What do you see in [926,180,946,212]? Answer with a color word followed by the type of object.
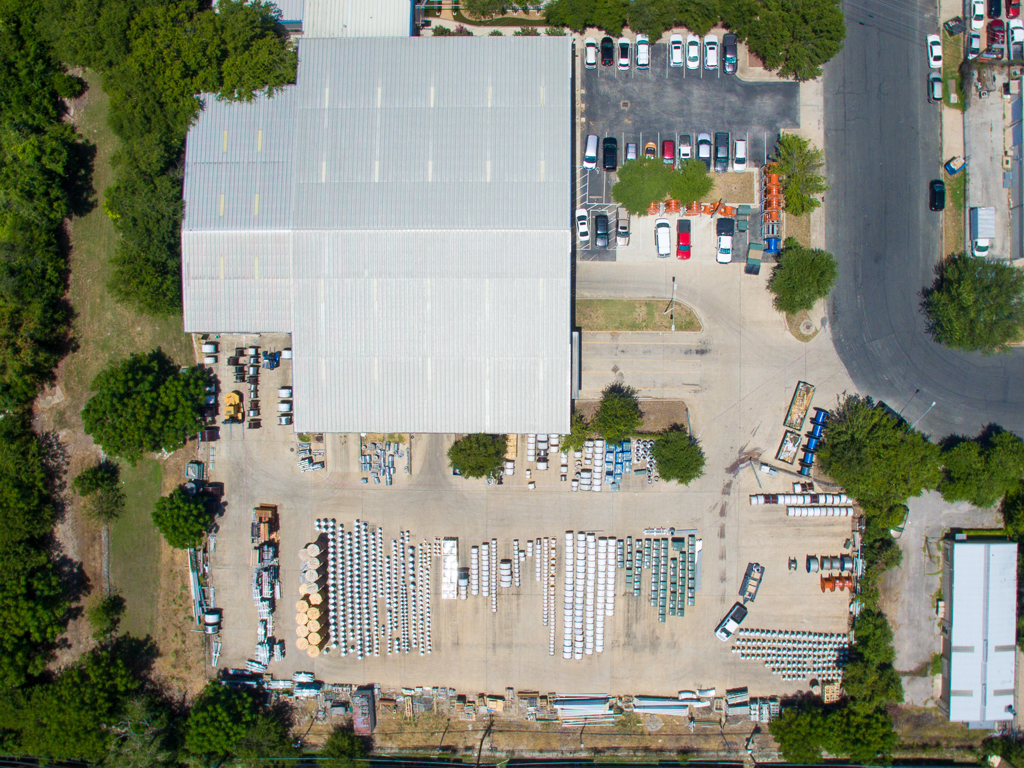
black car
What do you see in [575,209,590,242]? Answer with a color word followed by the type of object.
white car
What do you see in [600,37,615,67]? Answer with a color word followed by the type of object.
black car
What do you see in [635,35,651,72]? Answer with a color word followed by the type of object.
white car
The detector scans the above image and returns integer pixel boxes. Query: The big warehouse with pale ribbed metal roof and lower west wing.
[182,36,580,434]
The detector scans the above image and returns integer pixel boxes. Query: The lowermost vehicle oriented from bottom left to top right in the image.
[714,599,750,640]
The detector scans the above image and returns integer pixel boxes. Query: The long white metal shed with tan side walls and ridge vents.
[938,540,1018,721]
